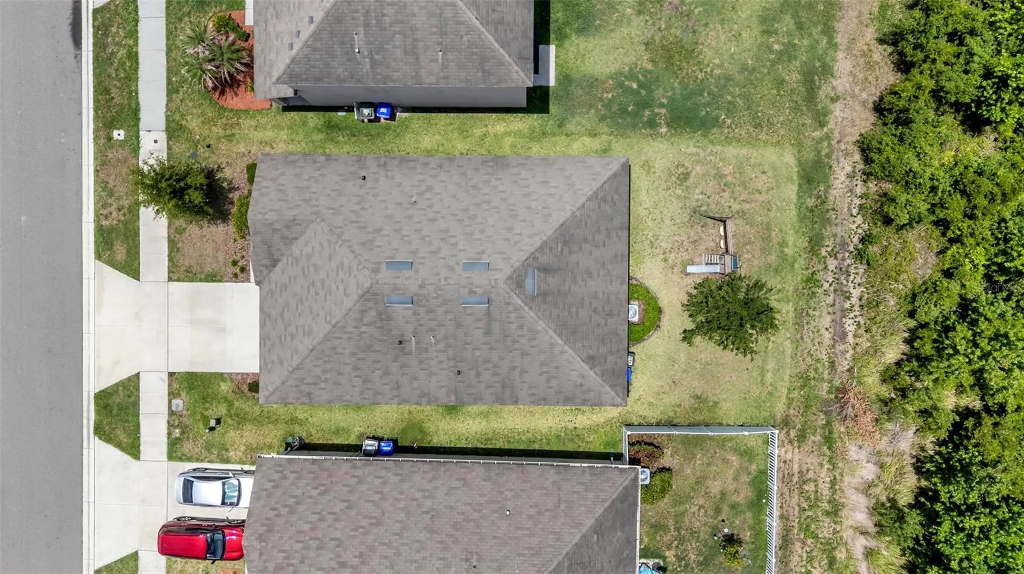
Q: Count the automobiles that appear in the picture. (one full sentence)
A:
I count 2 automobiles.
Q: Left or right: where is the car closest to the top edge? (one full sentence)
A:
The car closest to the top edge is on the left side of the image.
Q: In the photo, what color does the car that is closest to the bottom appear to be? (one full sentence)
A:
The car that is closest to the bottom is red.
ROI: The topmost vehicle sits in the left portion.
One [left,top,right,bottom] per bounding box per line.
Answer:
[172,468,255,514]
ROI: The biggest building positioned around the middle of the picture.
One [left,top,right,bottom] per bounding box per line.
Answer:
[249,155,632,408]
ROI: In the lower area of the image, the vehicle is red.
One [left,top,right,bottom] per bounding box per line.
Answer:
[156,518,245,567]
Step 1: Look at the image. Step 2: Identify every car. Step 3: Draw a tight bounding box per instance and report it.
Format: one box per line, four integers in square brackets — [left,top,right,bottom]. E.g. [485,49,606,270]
[156,518,245,567]
[172,468,255,514]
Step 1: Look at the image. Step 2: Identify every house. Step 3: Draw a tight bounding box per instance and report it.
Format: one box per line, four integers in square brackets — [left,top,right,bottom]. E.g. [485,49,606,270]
[253,0,535,107]
[249,155,632,408]
[241,449,640,574]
